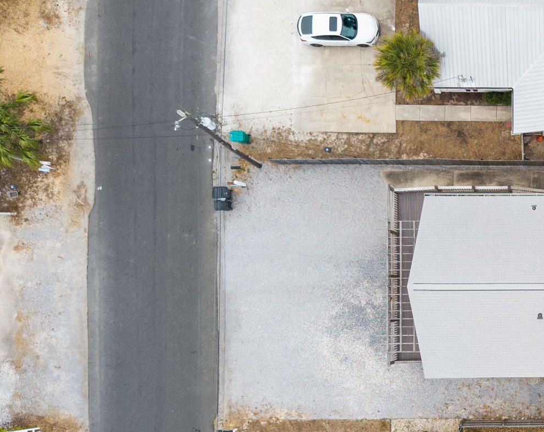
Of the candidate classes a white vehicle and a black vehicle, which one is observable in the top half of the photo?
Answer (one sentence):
There is a white vehicle in the top half of the photo.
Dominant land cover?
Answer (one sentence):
The bulk of the photo consists of paved ground.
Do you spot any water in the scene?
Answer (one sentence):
No, the scene doesn't show any water.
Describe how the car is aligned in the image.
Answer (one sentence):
From this overhead view, the car appears to run from side to side.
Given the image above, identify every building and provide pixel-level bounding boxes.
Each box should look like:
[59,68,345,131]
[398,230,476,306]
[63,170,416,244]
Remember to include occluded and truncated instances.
[407,190,544,378]
[417,0,544,136]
